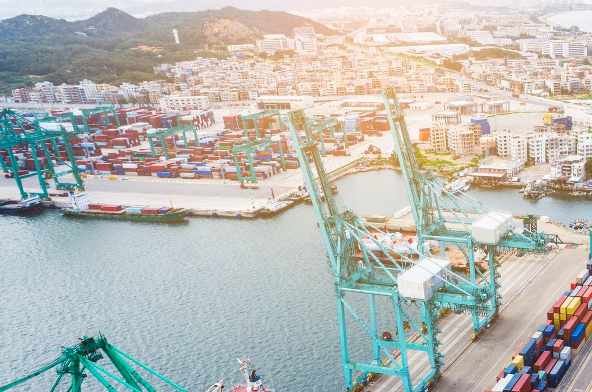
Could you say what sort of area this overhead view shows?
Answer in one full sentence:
The area seen from above is a port.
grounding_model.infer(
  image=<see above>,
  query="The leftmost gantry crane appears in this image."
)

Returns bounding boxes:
[0,114,31,196]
